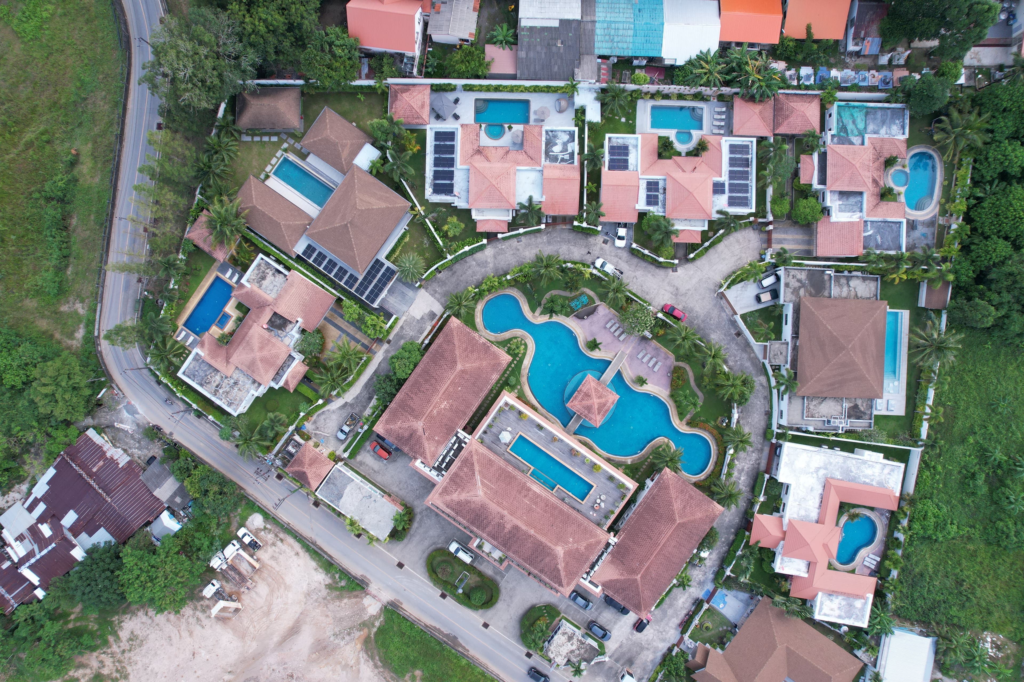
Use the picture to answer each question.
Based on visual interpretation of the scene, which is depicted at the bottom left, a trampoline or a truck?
truck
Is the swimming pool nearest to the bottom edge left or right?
right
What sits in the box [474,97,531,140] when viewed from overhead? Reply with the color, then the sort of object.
blue swimming pool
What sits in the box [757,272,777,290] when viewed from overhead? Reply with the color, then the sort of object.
white car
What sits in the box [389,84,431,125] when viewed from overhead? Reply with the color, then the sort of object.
pink gazebo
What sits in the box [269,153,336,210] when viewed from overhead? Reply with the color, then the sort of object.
blue swimming pool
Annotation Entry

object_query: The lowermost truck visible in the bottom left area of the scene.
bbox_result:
[194,580,237,628]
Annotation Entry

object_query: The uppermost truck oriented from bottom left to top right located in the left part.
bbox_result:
[336,413,358,441]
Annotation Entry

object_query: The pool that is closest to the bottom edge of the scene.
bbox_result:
[831,509,883,570]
